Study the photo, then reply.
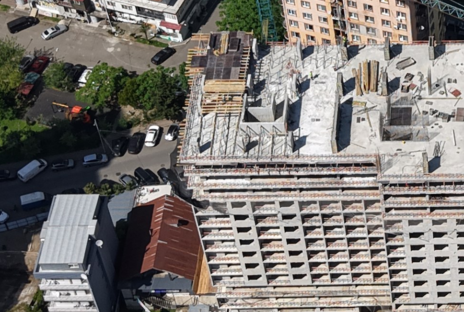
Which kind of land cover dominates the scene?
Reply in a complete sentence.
The largest share of the image is taken up by buildings.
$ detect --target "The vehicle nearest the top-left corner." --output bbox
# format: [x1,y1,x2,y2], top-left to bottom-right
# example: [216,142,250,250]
[8,12,38,36]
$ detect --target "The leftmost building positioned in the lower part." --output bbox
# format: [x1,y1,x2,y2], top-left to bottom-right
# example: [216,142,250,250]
[34,187,121,312]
